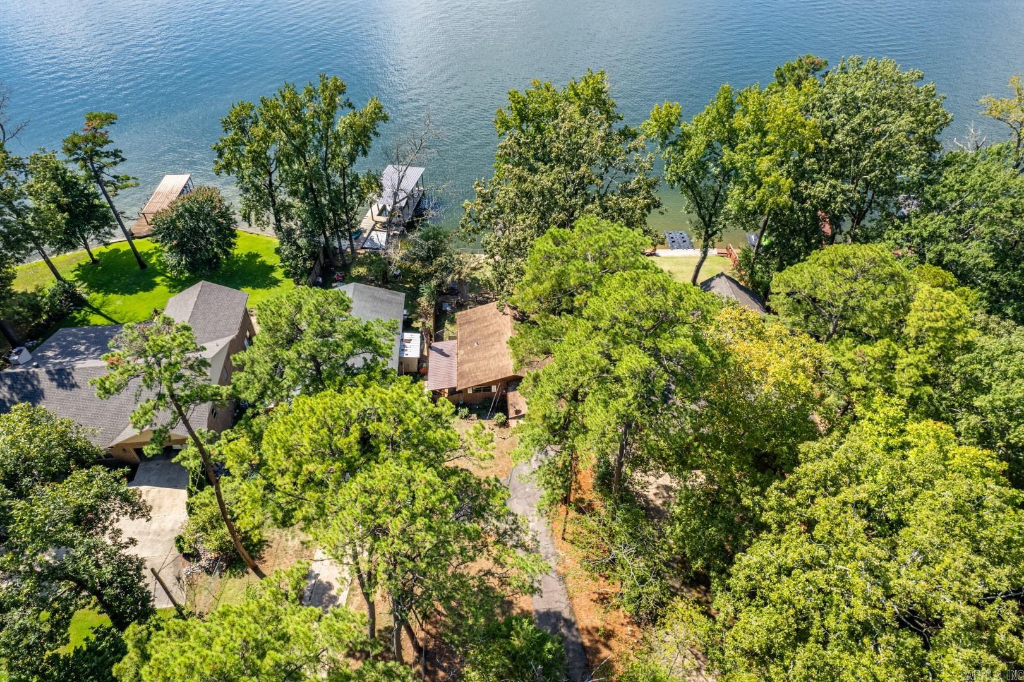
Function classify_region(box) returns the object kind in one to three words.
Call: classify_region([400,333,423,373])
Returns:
shed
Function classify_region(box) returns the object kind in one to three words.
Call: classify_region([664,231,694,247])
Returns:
pier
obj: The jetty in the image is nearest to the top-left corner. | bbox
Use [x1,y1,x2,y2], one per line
[131,175,198,236]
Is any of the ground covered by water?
Yes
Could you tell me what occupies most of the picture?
trees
